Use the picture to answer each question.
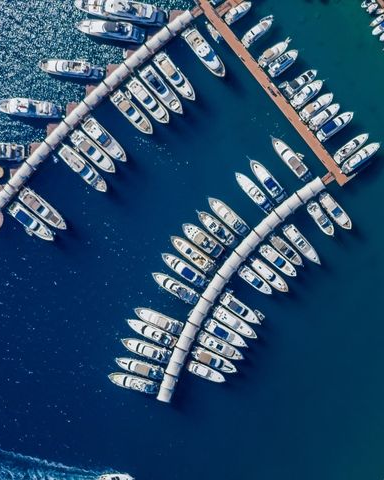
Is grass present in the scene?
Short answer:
No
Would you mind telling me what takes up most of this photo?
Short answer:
water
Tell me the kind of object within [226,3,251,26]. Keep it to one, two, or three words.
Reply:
boat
